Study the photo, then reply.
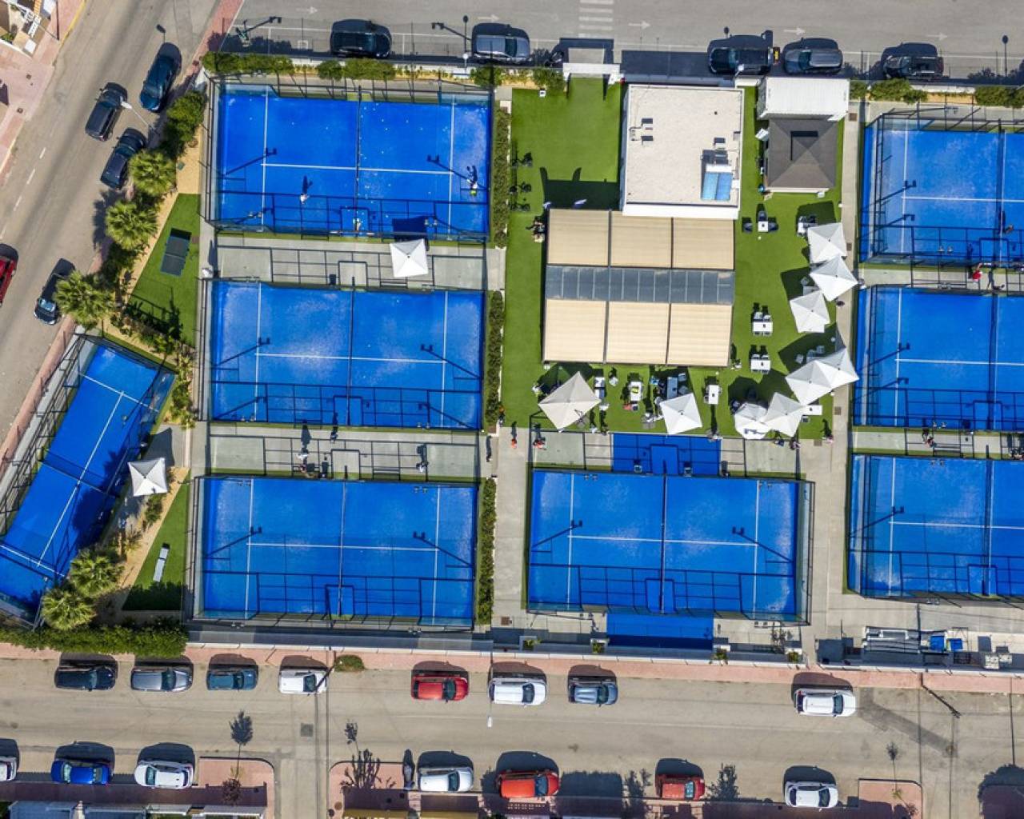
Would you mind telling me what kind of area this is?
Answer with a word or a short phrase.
sports ground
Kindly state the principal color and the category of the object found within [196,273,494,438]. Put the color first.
blue sports court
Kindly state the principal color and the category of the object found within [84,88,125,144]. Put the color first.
black car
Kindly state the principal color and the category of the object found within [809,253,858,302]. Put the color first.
white umbrella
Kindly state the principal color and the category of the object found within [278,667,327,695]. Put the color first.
white car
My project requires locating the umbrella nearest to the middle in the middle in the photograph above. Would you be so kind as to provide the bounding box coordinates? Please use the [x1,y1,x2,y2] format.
[541,374,597,430]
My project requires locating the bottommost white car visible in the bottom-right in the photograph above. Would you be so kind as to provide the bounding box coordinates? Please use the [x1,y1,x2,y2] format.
[784,779,839,812]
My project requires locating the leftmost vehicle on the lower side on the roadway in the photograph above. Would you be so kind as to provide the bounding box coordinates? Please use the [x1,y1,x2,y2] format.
[0,756,22,783]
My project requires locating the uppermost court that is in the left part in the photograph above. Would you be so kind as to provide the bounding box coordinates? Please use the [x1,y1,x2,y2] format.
[205,71,501,248]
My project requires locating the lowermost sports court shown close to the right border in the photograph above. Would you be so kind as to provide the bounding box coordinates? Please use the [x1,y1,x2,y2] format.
[843,447,1024,607]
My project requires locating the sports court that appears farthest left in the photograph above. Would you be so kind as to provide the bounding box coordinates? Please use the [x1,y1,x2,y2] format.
[0,332,181,629]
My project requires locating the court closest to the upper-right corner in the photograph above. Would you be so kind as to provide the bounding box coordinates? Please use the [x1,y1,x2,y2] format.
[854,100,1024,272]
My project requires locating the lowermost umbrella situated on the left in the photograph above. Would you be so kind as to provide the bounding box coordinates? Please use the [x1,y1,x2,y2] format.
[128,456,168,497]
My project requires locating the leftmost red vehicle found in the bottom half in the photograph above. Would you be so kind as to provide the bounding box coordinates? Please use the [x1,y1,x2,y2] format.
[411,672,469,703]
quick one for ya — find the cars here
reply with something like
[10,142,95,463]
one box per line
[53,663,118,695]
[33,271,72,328]
[656,774,705,804]
[130,664,194,696]
[0,249,22,306]
[0,756,22,783]
[138,49,182,113]
[330,29,392,61]
[99,134,142,193]
[489,675,547,706]
[708,42,780,76]
[784,779,839,812]
[417,764,474,796]
[411,672,469,703]
[881,49,945,81]
[568,677,618,706]
[793,688,857,720]
[84,88,125,144]
[206,665,258,694]
[497,769,559,803]
[781,43,844,76]
[472,32,532,63]
[50,758,114,789]
[278,667,327,695]
[134,760,194,792]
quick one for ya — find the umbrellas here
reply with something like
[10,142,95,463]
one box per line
[787,356,836,406]
[788,291,830,333]
[128,456,168,497]
[806,221,846,261]
[761,392,807,437]
[819,348,858,387]
[389,238,429,278]
[541,374,597,430]
[809,253,858,302]
[658,392,701,435]
[732,402,769,439]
